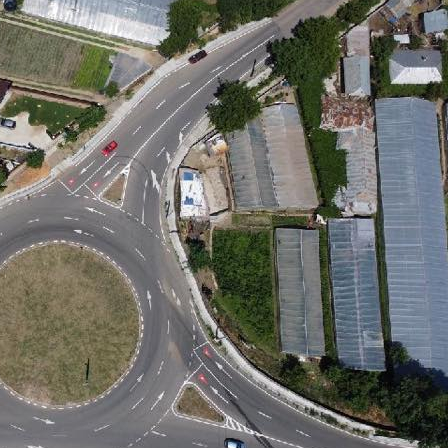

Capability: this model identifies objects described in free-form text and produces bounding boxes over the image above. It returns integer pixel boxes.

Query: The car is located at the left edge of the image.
[0,117,18,129]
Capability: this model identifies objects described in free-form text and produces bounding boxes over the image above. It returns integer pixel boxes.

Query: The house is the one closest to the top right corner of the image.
[417,7,448,35]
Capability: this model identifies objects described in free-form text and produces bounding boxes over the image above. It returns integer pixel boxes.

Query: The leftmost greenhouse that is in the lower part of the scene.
[273,228,325,357]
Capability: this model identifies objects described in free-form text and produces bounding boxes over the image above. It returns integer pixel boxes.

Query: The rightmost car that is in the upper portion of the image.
[187,48,208,65]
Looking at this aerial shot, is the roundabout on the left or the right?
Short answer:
left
